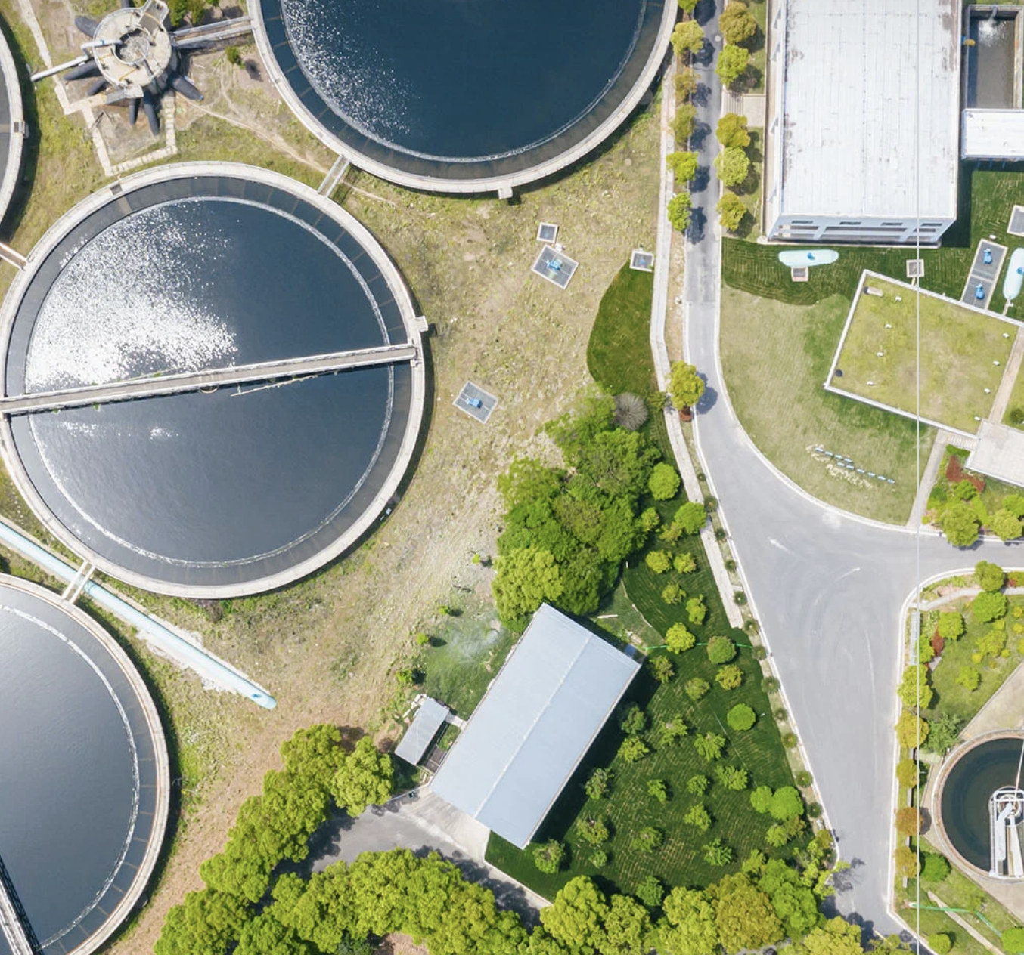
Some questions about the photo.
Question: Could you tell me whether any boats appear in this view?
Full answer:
No, I find no boat anywhere in the image.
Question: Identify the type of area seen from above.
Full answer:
This image shows an industrial area.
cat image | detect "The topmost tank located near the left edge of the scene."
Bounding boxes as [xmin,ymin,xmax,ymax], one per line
[0,27,35,225]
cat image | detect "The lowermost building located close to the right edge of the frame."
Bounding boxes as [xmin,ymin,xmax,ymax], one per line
[962,420,1024,491]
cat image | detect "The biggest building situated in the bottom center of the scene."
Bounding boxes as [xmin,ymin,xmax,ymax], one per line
[430,603,642,849]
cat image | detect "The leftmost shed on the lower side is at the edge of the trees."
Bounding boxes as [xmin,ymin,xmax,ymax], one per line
[394,697,452,766]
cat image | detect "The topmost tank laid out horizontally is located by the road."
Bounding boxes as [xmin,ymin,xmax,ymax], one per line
[248,0,678,204]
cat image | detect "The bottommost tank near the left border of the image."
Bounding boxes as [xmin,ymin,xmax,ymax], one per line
[0,574,171,955]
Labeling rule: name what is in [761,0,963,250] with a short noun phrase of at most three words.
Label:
building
